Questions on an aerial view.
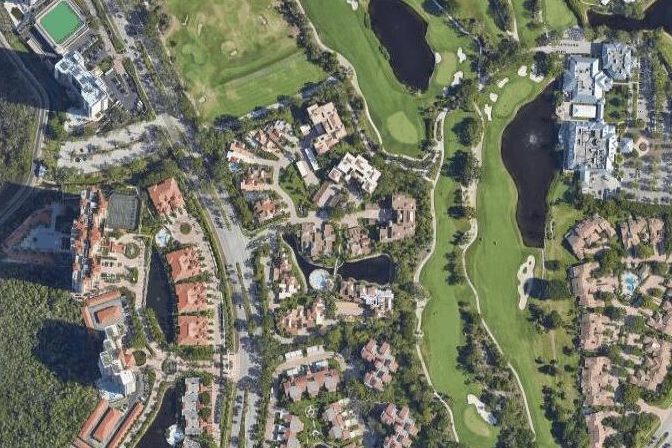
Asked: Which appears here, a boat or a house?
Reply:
house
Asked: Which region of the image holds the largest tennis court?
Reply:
left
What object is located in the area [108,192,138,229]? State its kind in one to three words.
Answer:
tennis court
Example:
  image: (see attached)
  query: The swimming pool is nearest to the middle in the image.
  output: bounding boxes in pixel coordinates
[309,270,328,289]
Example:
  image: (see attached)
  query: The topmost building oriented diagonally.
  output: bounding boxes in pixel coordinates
[53,48,113,120]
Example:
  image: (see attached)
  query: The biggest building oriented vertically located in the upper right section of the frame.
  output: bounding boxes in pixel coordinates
[560,42,637,195]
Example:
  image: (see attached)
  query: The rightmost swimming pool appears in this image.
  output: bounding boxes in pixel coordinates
[622,272,638,294]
